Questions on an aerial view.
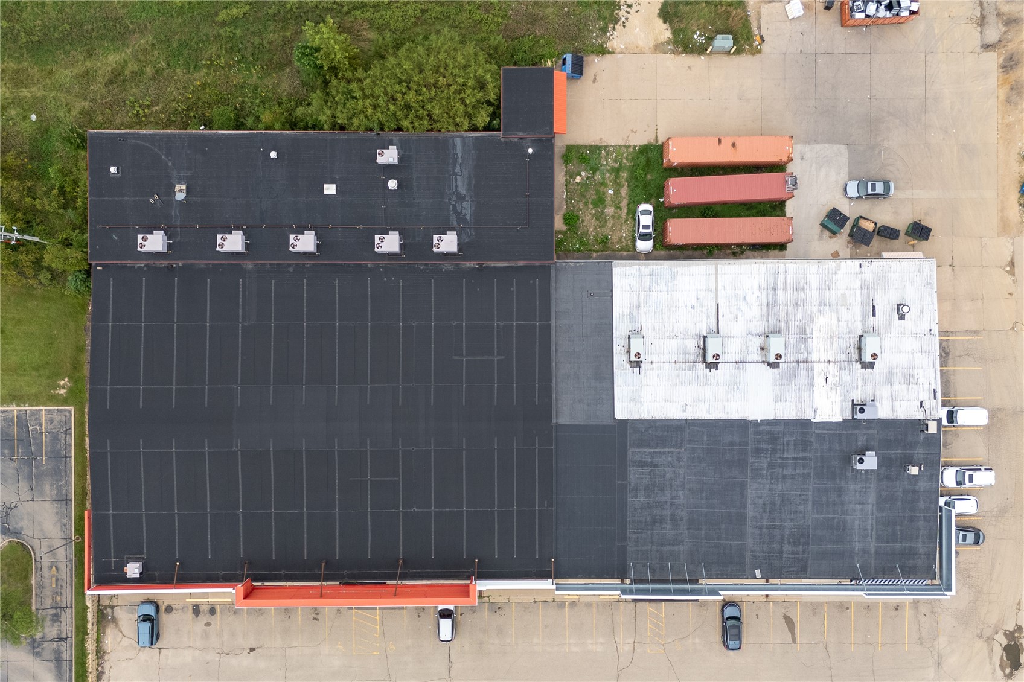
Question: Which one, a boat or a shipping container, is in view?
shipping container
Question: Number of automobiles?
9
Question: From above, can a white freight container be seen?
No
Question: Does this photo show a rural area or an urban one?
urban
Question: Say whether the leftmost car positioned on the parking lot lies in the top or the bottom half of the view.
bottom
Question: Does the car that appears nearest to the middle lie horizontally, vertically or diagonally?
vertically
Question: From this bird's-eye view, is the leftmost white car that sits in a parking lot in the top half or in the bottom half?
bottom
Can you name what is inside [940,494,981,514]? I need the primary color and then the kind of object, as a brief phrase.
white car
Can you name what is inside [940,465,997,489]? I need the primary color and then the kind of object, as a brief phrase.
white car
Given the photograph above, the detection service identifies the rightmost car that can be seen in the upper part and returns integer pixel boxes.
[843,177,894,201]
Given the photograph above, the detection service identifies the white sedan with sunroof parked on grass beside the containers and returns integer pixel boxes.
[634,204,656,253]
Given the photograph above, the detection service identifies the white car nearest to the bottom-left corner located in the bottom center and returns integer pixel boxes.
[436,606,457,645]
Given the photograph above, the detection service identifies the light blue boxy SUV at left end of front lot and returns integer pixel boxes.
[135,599,163,649]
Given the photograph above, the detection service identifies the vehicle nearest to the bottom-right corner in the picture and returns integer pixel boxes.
[955,525,986,548]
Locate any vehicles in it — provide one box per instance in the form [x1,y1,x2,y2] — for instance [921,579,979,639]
[720,601,744,653]
[940,494,981,514]
[843,177,894,201]
[436,606,457,645]
[941,406,991,428]
[955,525,986,548]
[634,204,656,253]
[135,599,163,649]
[940,465,997,489]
